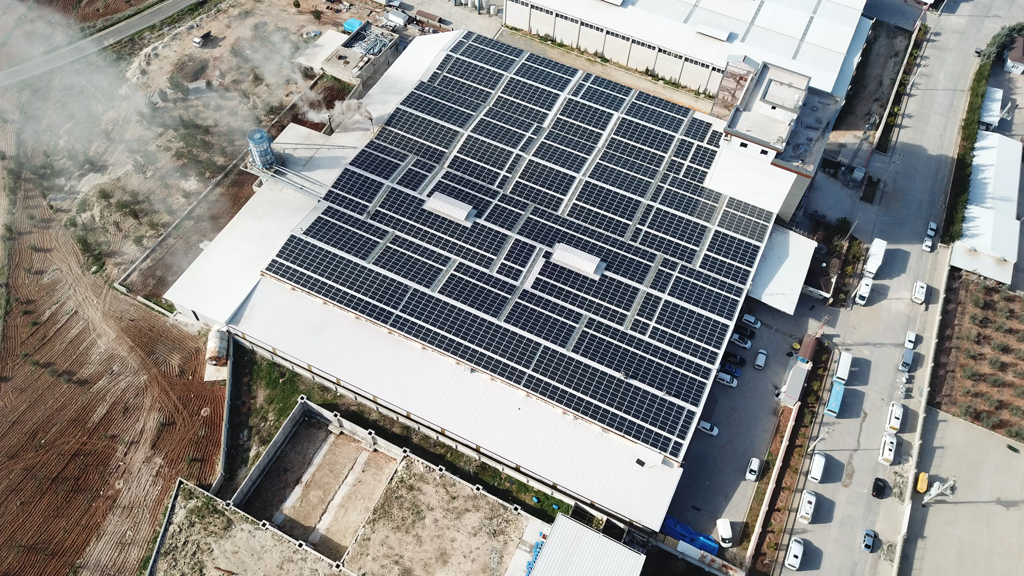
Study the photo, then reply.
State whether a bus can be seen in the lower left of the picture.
No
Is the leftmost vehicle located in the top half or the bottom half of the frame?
top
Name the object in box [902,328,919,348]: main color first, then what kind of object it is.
white car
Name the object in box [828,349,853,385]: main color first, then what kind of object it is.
white bus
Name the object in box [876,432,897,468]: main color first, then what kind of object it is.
white vehicle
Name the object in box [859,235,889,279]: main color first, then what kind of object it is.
white truck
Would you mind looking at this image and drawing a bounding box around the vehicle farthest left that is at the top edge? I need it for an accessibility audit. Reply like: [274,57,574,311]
[191,28,215,48]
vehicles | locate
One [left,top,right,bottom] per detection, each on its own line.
[807,452,826,485]
[820,382,846,423]
[715,516,734,549]
[920,235,933,255]
[869,475,887,503]
[191,28,215,48]
[722,351,747,369]
[902,328,919,348]
[695,420,720,438]
[972,47,982,59]
[744,456,762,484]
[739,311,763,331]
[380,17,399,32]
[897,346,916,374]
[876,432,897,468]
[796,488,817,528]
[714,370,739,389]
[884,401,904,436]
[753,349,768,371]
[910,280,928,306]
[729,334,752,351]
[782,534,805,576]
[859,235,889,279]
[828,349,853,385]
[859,526,876,556]
[718,362,742,379]
[733,324,757,342]
[855,275,876,307]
